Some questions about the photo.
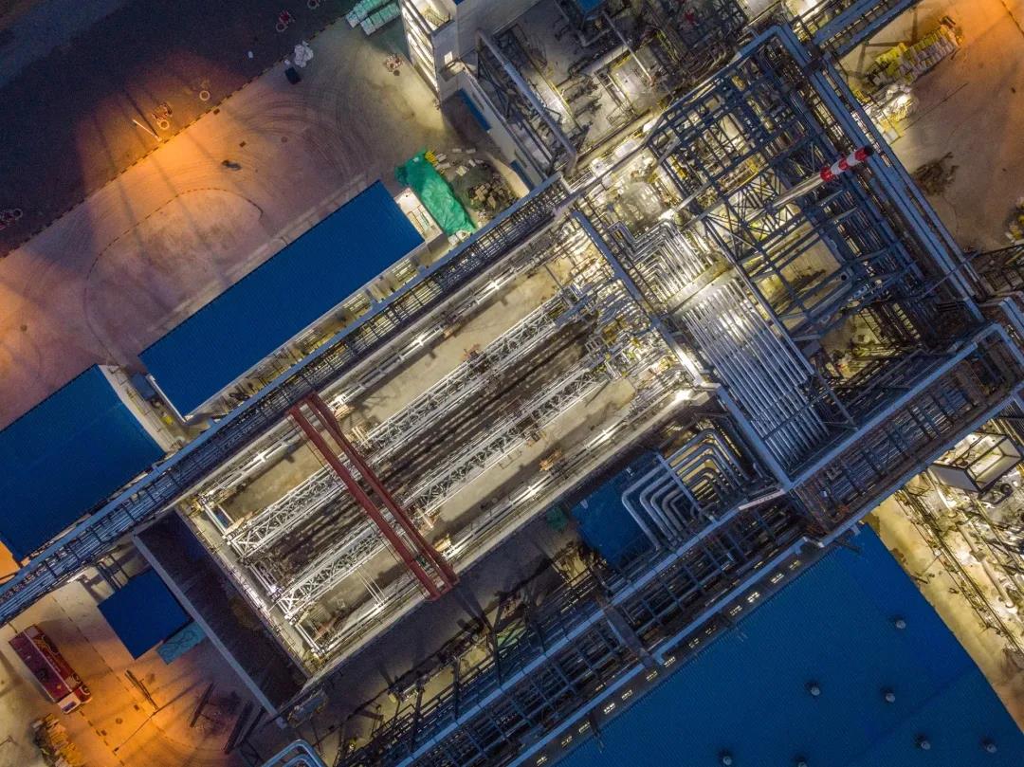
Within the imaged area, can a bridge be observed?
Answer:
Yes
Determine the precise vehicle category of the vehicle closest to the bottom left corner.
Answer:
bus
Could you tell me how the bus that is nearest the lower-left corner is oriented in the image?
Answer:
at an angle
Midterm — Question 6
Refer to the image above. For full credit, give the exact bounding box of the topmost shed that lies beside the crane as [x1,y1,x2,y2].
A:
[139,181,426,418]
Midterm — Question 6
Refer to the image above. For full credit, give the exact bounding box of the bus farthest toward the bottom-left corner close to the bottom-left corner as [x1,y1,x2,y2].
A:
[8,608,112,716]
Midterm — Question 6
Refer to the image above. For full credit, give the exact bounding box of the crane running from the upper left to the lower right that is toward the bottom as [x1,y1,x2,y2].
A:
[290,391,459,600]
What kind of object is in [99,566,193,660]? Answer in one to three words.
shed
